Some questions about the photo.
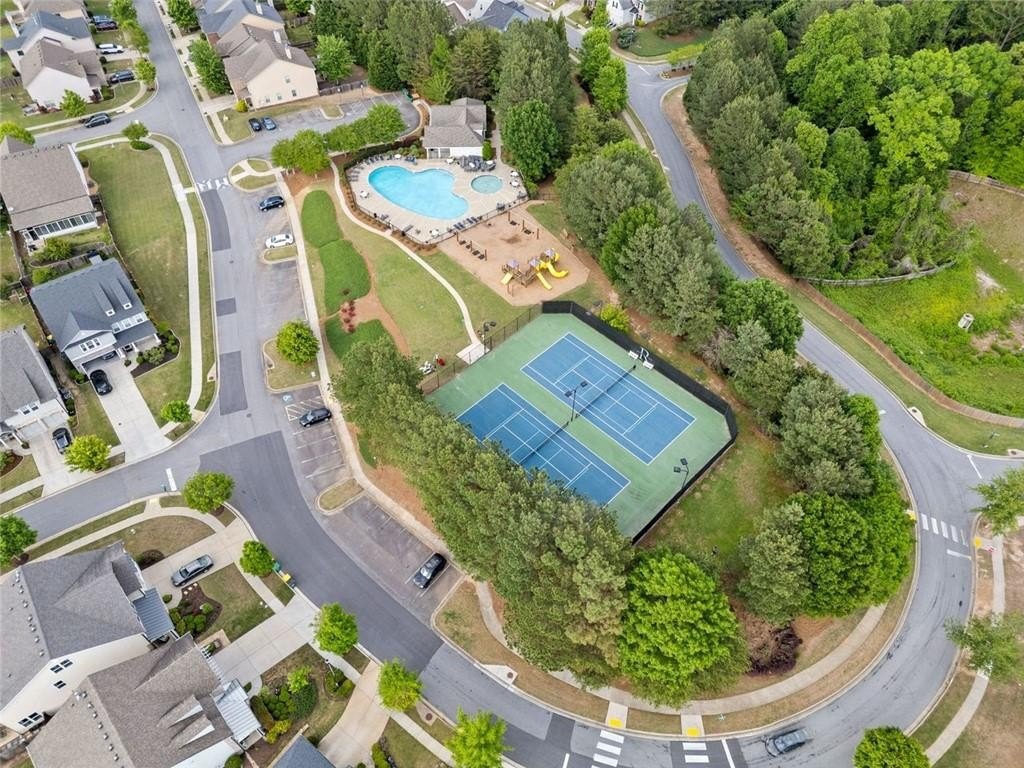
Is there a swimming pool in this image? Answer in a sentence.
Yes, looking at the shot, I can spot a swimming pool.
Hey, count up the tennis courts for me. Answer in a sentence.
Looking from above, you can make out 2 tennis courts.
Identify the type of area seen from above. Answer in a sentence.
The area seen from above is a residential area.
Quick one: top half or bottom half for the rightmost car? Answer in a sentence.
The bottom half of the photo is where the rightmost car is.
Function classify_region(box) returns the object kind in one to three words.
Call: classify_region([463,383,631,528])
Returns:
tennis court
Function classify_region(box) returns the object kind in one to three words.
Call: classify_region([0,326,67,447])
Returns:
house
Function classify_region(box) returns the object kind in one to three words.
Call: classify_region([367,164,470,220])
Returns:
swimming pool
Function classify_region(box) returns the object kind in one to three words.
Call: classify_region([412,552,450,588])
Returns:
car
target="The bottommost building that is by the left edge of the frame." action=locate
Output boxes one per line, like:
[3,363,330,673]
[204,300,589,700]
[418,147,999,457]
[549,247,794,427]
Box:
[19,636,267,768]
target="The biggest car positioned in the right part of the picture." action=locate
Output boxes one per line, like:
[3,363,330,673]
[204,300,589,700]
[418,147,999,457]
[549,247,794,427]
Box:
[761,722,817,758]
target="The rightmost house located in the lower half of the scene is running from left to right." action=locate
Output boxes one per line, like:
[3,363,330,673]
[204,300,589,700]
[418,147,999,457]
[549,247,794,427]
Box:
[248,729,335,768]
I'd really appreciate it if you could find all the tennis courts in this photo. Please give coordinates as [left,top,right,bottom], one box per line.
[463,383,631,528]
[521,333,695,464]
